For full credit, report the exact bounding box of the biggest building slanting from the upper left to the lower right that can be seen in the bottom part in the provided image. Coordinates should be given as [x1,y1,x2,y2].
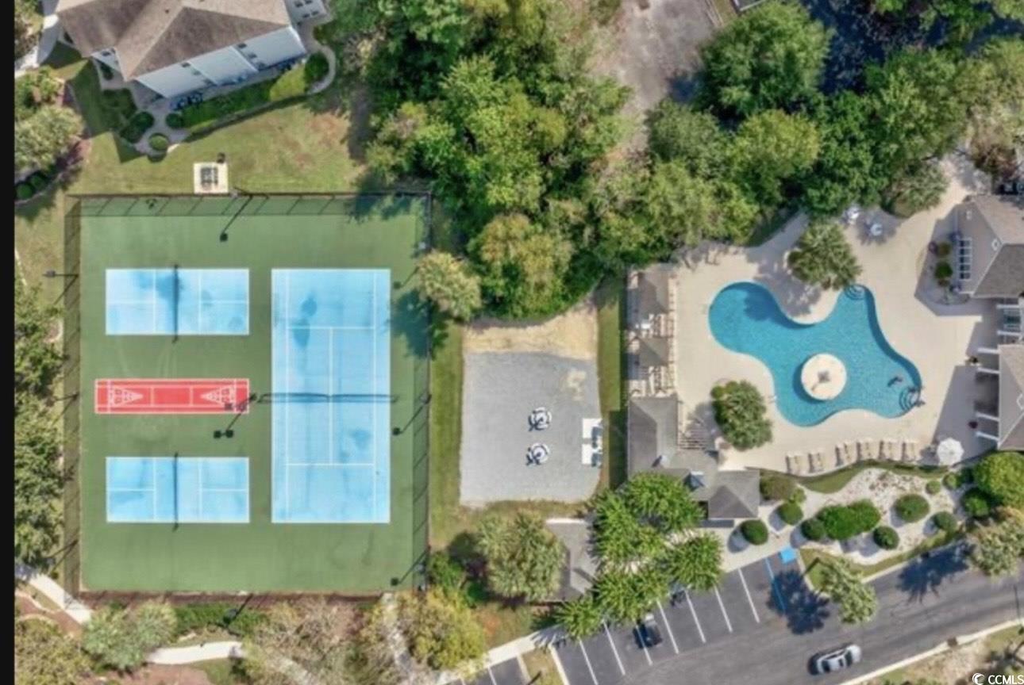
[626,397,759,519]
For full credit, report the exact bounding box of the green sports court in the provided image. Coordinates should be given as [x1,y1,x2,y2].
[79,195,429,595]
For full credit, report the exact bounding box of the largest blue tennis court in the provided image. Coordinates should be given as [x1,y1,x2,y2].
[257,269,399,523]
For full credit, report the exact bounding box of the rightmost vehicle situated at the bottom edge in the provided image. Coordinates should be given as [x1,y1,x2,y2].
[810,641,861,675]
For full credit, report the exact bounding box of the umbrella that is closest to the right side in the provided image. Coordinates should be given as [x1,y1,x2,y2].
[934,439,963,465]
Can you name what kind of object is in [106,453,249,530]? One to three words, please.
sports court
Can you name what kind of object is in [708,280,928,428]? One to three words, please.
swimming pool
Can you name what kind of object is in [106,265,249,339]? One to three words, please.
sports court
